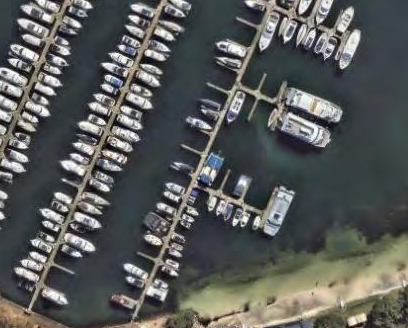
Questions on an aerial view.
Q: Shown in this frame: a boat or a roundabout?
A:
boat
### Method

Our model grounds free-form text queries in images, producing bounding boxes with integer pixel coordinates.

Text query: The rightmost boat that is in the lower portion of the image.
[265,186,295,235]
